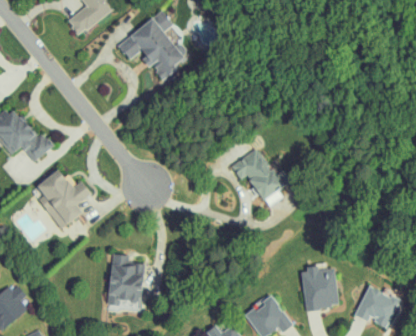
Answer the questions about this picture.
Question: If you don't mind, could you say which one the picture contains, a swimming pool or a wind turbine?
swimming pool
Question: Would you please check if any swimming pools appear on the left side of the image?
Yes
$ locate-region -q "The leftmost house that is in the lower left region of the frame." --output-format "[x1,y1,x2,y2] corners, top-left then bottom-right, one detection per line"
[0,285,30,335]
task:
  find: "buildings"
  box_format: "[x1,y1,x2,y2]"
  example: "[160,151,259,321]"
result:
[354,286,404,332]
[36,170,93,230]
[70,0,116,36]
[0,285,30,335]
[115,8,191,83]
[106,254,147,306]
[0,108,55,164]
[230,149,286,200]
[246,296,295,336]
[206,326,242,336]
[302,267,340,314]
